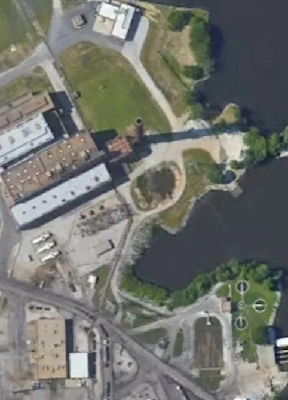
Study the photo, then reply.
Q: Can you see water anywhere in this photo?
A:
Yes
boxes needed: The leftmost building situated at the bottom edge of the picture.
[30,318,67,381]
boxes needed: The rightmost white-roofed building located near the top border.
[93,2,134,41]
